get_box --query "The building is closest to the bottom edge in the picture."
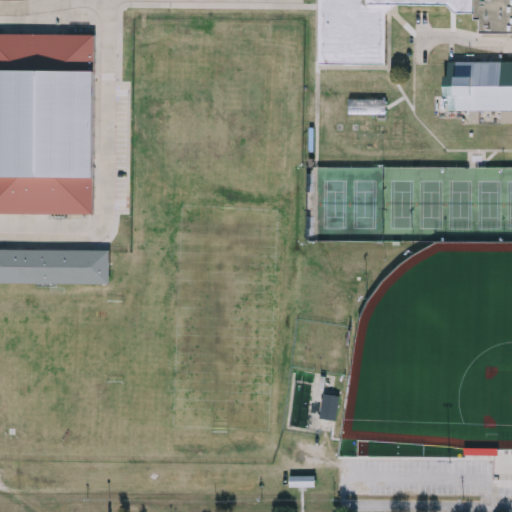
[289,476,316,488]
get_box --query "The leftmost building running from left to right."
[0,250,110,288]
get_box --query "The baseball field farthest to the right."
[343,243,512,448]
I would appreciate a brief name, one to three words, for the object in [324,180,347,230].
tennis court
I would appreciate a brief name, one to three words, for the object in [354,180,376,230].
tennis court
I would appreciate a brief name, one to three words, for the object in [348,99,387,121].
shed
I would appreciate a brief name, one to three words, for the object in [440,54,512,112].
building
